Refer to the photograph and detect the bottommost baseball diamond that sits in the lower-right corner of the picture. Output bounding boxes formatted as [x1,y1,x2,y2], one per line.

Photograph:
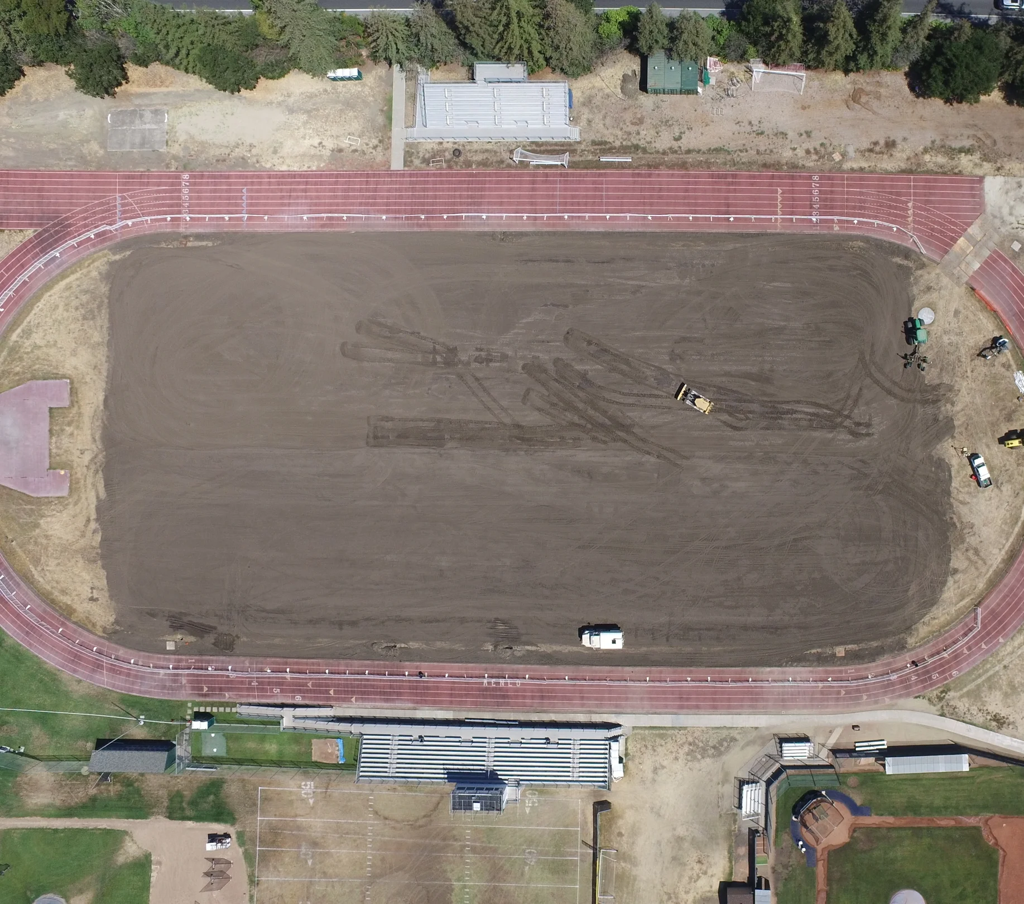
[767,767,1024,904]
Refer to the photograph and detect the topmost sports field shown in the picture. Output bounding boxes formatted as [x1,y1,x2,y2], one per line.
[101,233,955,664]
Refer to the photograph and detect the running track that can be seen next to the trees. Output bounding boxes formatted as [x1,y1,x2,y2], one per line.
[0,170,1024,709]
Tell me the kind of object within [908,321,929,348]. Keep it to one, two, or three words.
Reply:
work vehicle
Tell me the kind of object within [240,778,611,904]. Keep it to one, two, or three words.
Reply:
sports field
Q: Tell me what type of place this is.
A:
sports ground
